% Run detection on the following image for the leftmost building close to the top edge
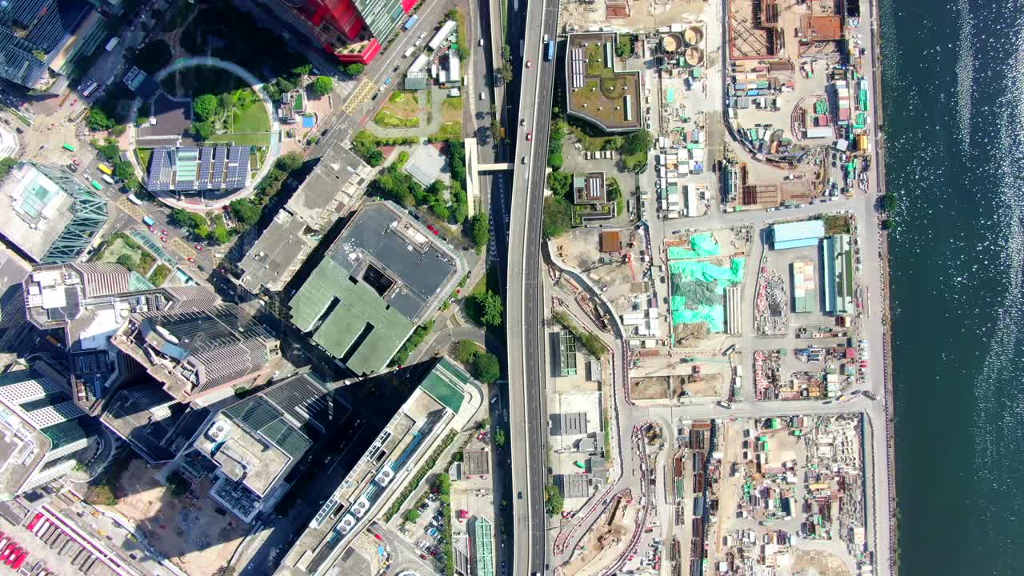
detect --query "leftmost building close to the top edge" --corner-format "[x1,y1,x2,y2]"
[0,0,120,99]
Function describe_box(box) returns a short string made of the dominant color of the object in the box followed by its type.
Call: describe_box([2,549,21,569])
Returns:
red vehicle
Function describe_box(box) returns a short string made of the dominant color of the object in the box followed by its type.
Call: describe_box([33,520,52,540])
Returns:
white vehicle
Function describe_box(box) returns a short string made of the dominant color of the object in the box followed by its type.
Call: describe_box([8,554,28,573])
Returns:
red vehicle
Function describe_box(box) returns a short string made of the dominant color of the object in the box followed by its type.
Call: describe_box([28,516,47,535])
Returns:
white vehicle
